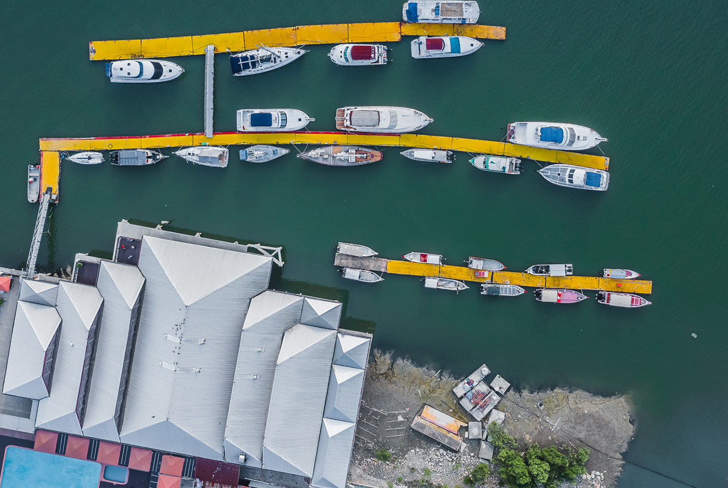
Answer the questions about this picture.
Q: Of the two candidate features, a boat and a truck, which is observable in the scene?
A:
boat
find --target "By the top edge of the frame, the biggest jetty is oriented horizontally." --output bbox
[90,22,401,61]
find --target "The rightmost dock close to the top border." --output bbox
[402,22,506,40]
